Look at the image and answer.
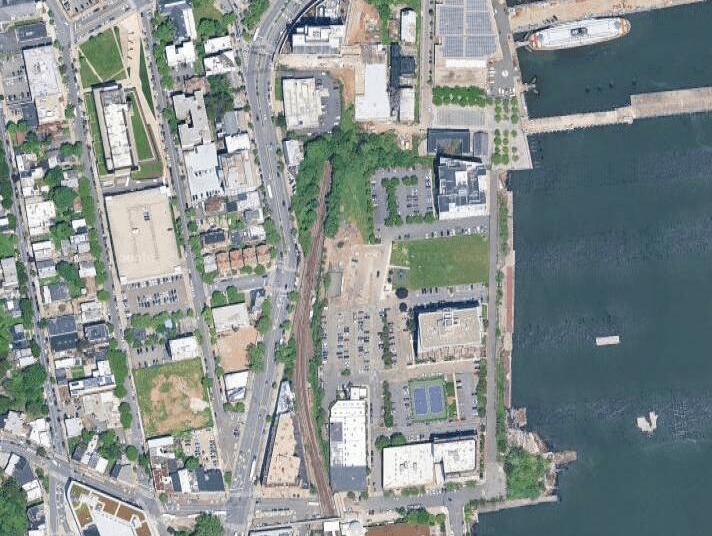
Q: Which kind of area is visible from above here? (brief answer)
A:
residential area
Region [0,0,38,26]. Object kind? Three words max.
building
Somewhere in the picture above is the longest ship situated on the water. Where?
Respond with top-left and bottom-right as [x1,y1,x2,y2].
[527,19,631,51]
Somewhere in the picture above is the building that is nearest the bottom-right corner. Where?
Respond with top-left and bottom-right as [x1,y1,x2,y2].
[434,435,475,487]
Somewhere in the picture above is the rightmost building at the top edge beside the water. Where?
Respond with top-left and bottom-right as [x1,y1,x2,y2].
[435,0,504,90]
